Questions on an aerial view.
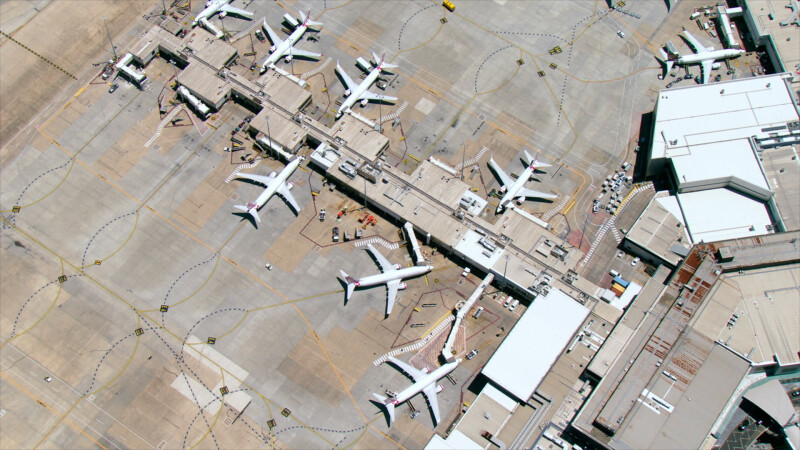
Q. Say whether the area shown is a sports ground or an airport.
airport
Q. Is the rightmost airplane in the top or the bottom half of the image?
top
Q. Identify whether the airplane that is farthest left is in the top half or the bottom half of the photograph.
top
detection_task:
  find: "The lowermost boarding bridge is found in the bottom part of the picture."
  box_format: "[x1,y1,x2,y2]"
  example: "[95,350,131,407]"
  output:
[444,273,495,364]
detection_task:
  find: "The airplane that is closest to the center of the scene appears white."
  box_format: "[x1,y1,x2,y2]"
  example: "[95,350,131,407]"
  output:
[341,242,433,313]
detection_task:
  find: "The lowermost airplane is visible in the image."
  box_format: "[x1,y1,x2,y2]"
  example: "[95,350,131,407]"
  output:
[374,356,461,423]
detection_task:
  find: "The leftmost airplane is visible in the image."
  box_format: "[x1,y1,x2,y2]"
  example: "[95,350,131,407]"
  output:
[191,0,254,26]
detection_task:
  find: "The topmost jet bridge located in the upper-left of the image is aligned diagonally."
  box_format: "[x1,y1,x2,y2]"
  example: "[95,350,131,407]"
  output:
[192,14,226,44]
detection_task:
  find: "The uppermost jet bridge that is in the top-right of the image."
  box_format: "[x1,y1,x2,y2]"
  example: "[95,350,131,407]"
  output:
[718,5,742,56]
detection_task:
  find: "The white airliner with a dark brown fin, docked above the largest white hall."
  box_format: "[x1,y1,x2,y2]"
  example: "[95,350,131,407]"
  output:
[663,27,744,83]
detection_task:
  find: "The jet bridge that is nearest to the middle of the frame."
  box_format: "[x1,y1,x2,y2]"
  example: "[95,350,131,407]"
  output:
[405,222,426,271]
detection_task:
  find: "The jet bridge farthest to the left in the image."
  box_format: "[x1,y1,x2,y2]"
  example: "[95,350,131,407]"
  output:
[114,50,152,89]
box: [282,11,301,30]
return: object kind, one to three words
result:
vehicle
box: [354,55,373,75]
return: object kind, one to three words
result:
vehicle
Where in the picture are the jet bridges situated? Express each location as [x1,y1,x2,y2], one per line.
[192,14,226,44]
[255,133,301,170]
[405,222,426,271]
[420,153,461,181]
[718,5,742,56]
[340,104,381,134]
[265,60,306,91]
[177,84,216,122]
[114,50,152,89]
[444,273,495,364]
[499,197,552,230]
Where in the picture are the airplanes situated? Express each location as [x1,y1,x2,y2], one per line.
[491,150,558,212]
[341,242,433,313]
[191,0,254,26]
[374,356,461,423]
[259,9,323,73]
[236,158,304,222]
[663,27,744,83]
[335,51,398,117]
